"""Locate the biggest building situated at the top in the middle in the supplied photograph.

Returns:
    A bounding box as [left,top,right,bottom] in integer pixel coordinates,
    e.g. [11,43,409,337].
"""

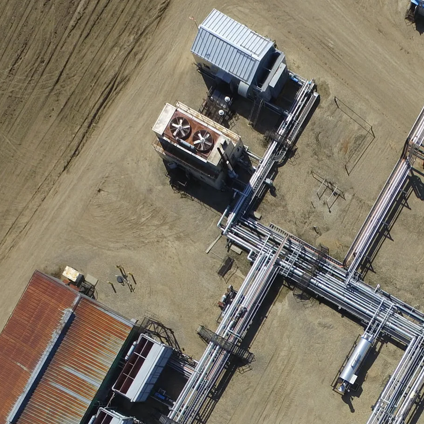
[190,9,296,111]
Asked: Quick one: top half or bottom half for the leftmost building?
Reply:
bottom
